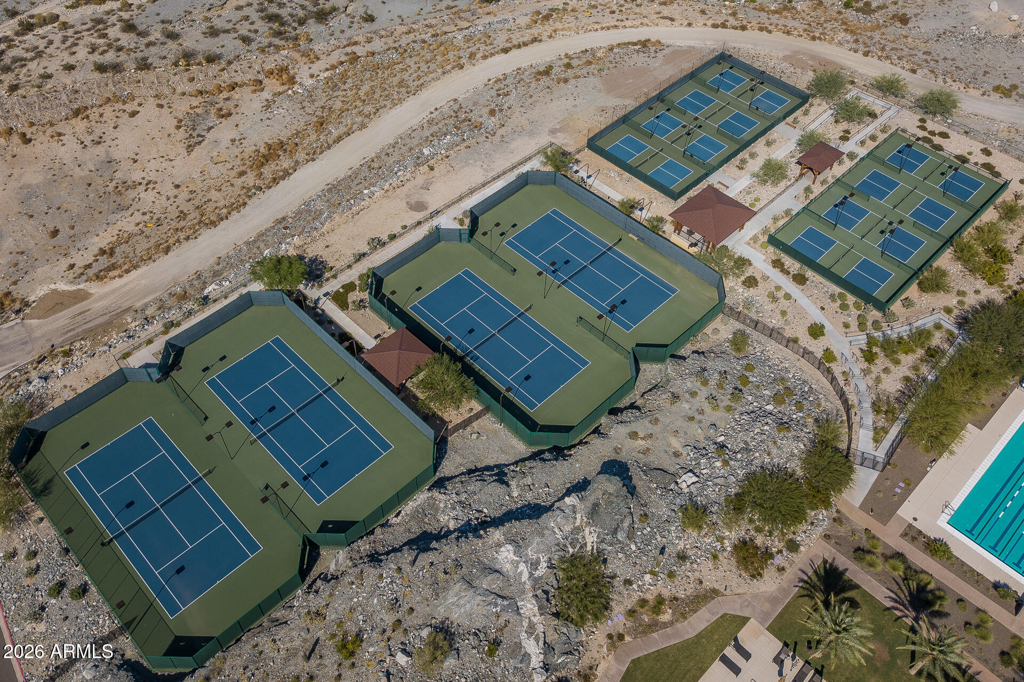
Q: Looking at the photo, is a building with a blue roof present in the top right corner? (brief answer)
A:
No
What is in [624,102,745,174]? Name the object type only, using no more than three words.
sports court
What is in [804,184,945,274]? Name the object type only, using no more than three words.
sports court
